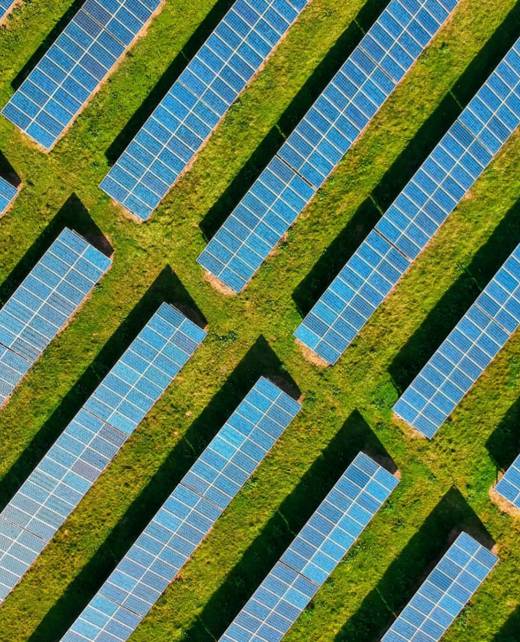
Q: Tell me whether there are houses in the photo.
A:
No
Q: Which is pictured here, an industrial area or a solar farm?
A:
solar farm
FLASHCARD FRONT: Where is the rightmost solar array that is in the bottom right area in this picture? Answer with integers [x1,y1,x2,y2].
[496,456,520,507]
